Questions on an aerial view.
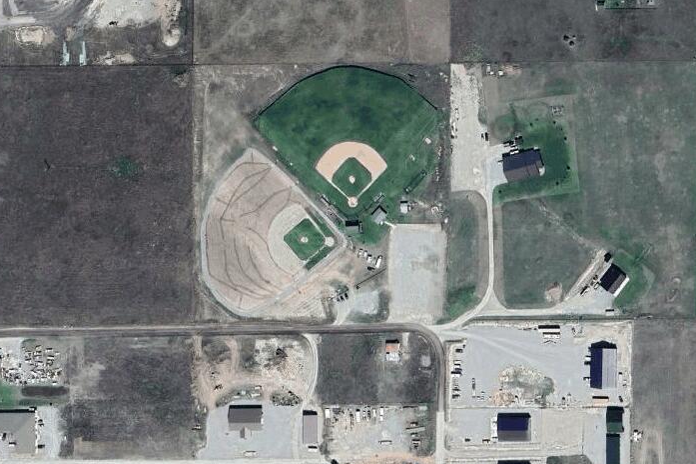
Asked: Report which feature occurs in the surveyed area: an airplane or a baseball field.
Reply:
baseball field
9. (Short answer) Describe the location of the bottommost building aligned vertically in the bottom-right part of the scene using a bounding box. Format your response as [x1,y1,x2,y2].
[607,436,621,464]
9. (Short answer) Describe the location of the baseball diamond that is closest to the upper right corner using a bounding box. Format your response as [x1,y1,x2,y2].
[257,65,443,233]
